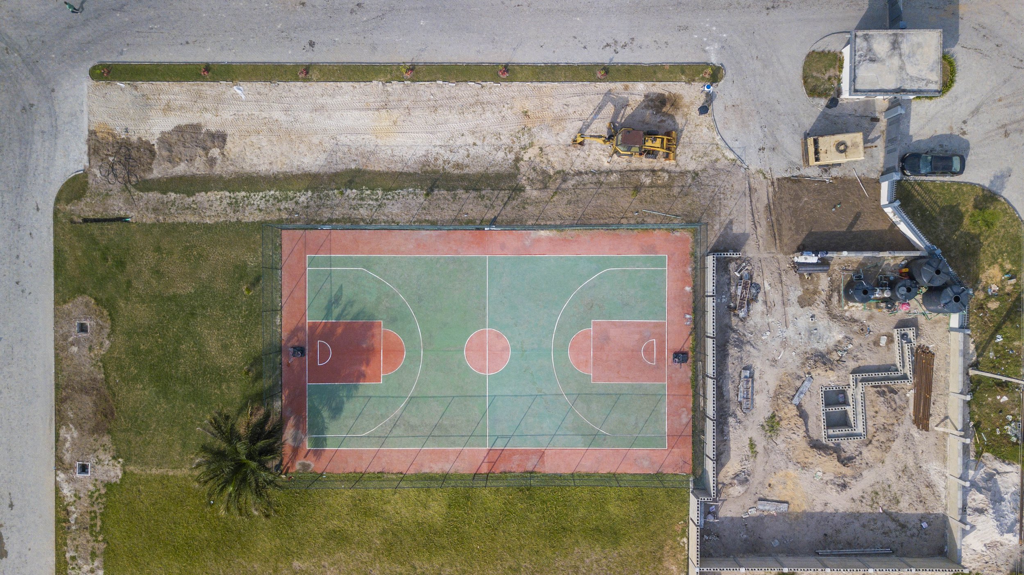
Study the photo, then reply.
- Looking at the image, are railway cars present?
No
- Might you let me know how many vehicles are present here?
2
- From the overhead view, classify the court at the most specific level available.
basketball court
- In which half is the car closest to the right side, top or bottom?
top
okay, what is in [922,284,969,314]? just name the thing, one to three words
water tank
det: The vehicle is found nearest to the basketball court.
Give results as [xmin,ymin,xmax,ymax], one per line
[572,122,677,164]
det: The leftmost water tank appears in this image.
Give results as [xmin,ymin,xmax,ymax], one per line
[843,280,875,302]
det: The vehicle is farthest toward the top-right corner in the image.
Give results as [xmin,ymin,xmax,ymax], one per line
[901,149,967,178]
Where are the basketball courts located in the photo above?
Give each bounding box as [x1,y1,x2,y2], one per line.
[282,229,693,475]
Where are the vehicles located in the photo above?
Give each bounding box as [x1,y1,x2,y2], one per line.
[572,122,677,164]
[901,149,967,178]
